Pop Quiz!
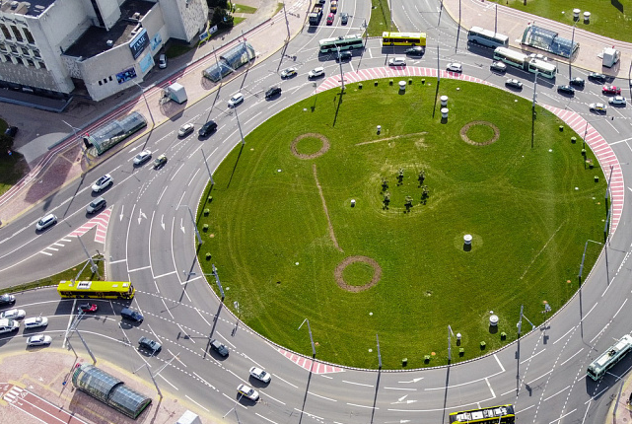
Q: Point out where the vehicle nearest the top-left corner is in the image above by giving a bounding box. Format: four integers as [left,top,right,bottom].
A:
[2,124,21,137]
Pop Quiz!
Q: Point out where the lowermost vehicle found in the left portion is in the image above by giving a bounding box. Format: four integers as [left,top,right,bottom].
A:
[235,384,261,402]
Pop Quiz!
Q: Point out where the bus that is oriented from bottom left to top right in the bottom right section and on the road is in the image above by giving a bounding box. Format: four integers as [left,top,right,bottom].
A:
[583,334,632,381]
